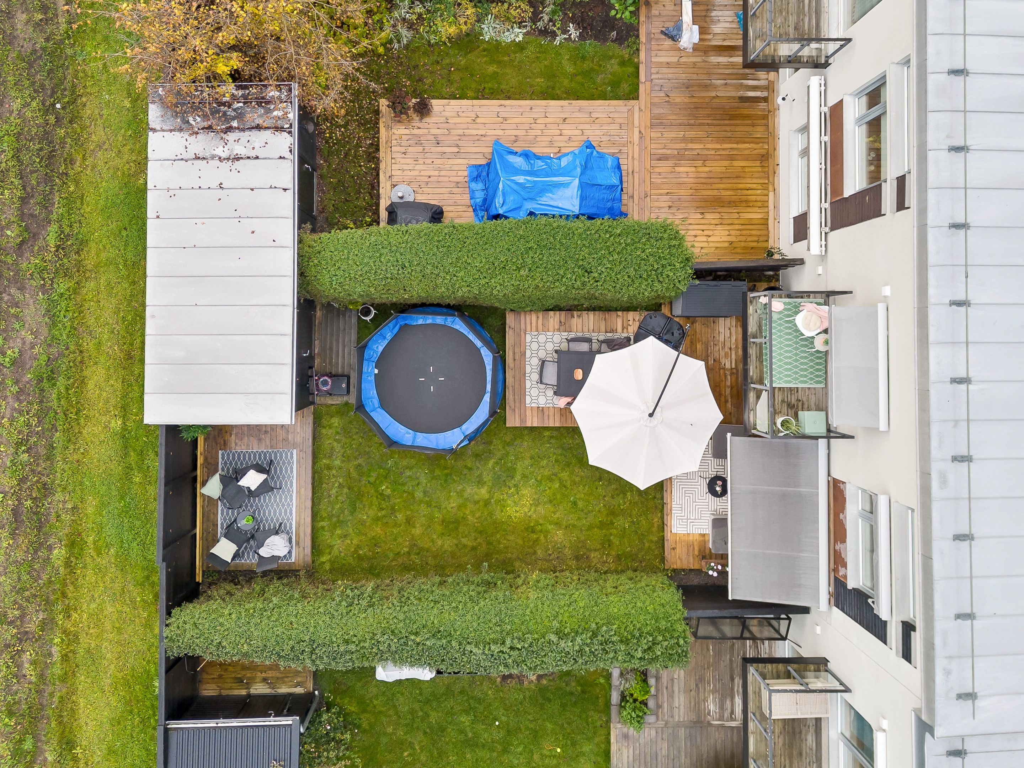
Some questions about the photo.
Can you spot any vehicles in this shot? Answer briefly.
No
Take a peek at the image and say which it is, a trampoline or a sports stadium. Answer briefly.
trampoline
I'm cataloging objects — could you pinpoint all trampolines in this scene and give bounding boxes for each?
[349,305,504,461]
